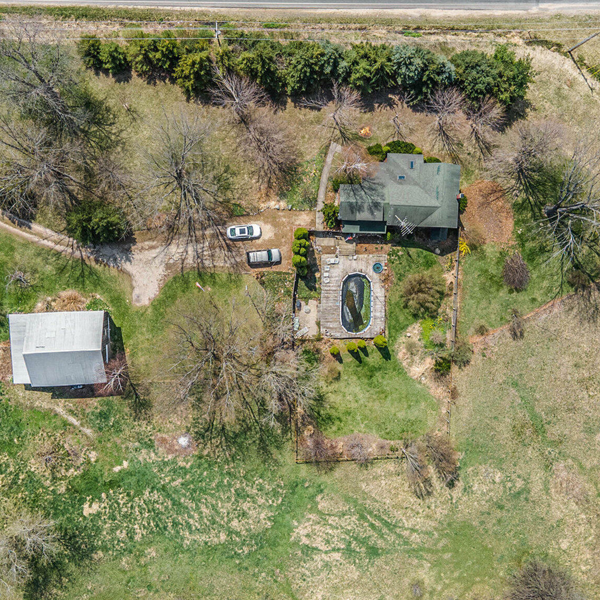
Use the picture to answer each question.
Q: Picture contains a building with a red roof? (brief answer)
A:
No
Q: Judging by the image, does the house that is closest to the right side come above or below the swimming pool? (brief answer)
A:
above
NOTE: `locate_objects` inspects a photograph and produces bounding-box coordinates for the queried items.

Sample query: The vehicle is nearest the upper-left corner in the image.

[227,224,261,240]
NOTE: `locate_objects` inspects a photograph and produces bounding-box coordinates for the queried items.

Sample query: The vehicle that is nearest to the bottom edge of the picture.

[248,249,282,264]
